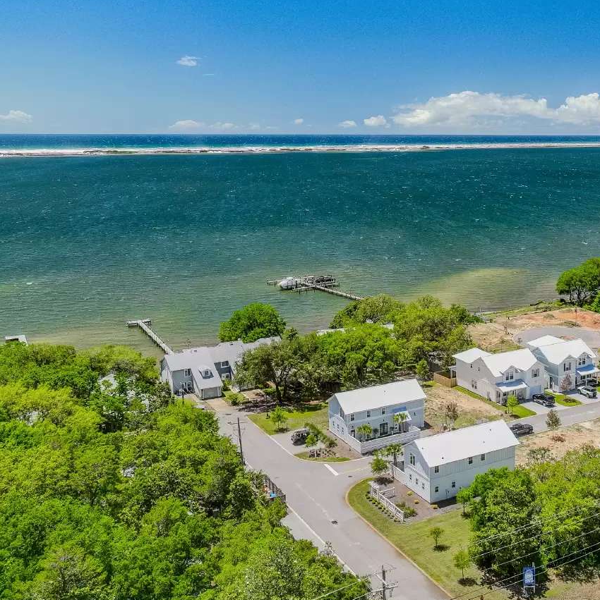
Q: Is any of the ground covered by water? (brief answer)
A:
Yes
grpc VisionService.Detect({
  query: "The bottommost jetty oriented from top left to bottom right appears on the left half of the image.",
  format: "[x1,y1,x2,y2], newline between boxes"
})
[125,317,174,353]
